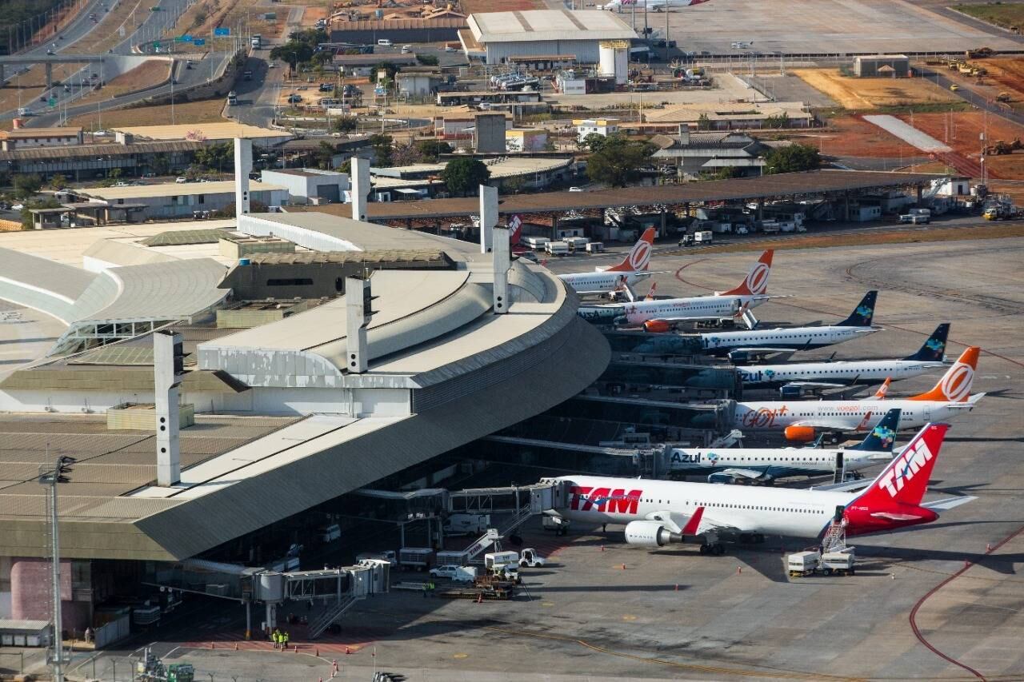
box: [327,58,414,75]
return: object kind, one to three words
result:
building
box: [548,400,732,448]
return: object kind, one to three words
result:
jet bridge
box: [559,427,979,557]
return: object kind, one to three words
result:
airplane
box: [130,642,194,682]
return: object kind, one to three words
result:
work vehicle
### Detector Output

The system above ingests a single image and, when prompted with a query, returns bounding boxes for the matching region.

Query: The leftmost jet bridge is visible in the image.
[168,556,398,637]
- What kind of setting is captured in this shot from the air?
airport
